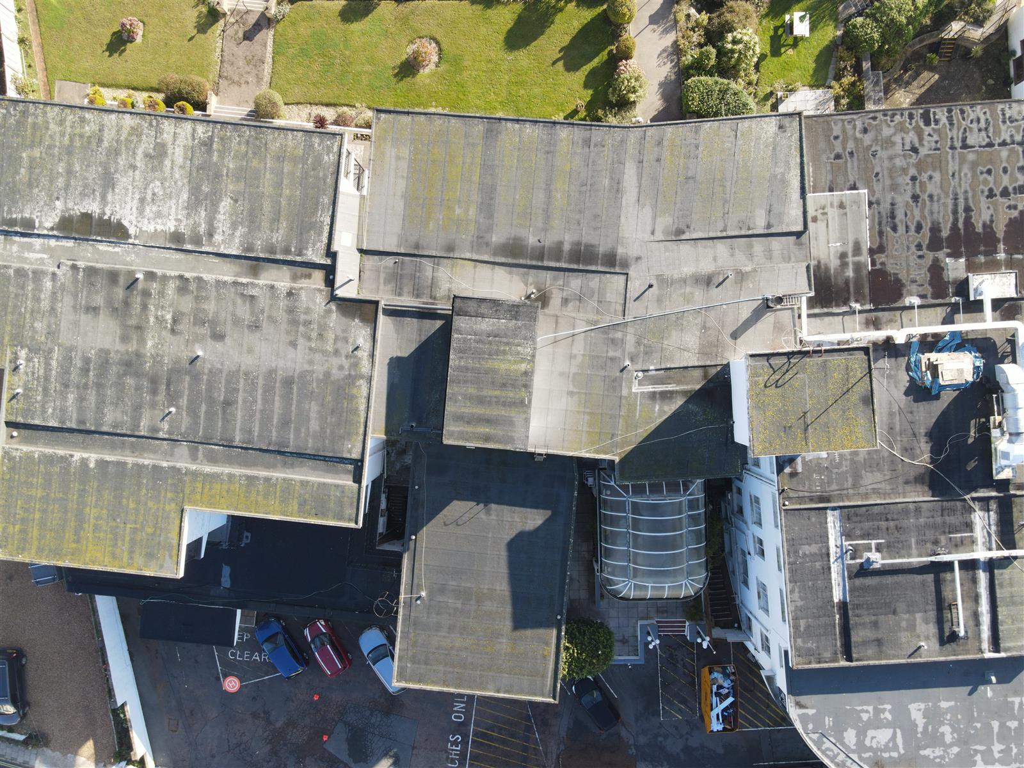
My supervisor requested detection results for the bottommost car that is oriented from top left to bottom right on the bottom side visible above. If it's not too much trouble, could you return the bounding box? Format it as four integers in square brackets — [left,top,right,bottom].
[570,675,627,745]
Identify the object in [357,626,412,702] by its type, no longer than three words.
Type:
car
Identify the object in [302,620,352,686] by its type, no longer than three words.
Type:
car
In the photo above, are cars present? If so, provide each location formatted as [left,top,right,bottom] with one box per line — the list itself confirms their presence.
[357,626,412,702]
[0,650,26,731]
[302,620,352,686]
[253,618,309,686]
[570,675,627,745]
